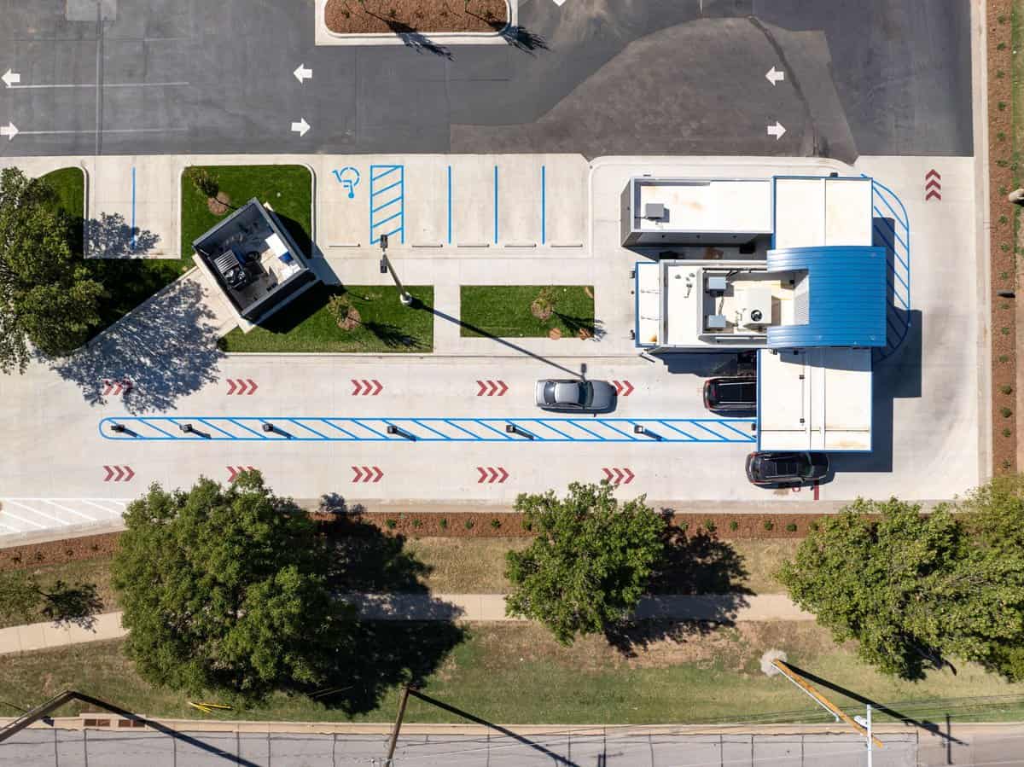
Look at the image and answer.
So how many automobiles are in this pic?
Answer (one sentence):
Looking from above, you can make out 3 automobiles.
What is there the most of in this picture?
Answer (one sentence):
The largest share of the image is taken up by paved ground.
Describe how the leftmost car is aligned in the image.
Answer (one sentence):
The leftmost car has been laid out horizontally relative to the frame.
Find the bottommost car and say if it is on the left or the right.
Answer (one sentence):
It is on the right.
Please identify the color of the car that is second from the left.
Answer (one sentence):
From above, the car that is second from the left appears black.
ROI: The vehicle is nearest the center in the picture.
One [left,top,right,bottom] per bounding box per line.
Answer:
[533,375,613,411]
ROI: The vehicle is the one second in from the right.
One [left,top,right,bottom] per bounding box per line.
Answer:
[704,376,755,407]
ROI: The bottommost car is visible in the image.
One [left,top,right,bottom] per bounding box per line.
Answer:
[745,451,830,486]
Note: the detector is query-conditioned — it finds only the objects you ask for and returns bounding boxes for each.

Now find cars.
[745,451,830,486]
[704,376,755,407]
[533,375,613,411]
